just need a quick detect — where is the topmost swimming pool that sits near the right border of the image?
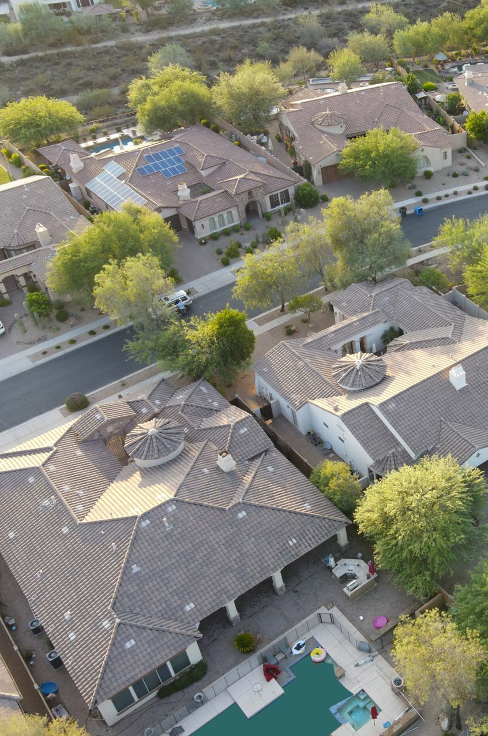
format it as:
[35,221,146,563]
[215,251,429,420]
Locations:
[443,58,488,73]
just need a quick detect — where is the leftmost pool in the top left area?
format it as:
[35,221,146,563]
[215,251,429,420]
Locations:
[88,126,155,154]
